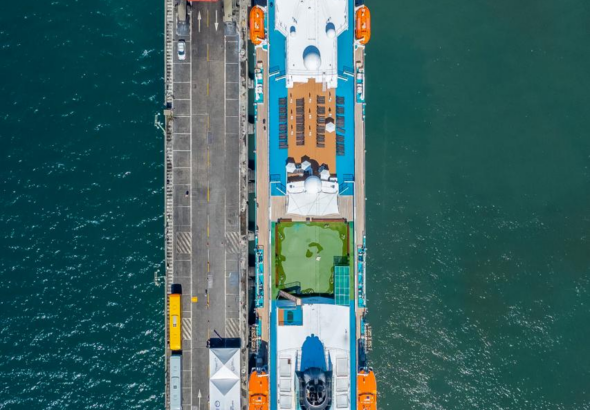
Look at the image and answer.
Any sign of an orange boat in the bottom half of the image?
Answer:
Yes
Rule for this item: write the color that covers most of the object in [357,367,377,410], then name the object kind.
orange boat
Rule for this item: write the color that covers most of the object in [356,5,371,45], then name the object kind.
orange boat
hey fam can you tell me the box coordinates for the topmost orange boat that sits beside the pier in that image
[249,6,264,46]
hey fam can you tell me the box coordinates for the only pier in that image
[166,0,255,410]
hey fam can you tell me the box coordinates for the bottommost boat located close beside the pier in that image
[248,368,270,410]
